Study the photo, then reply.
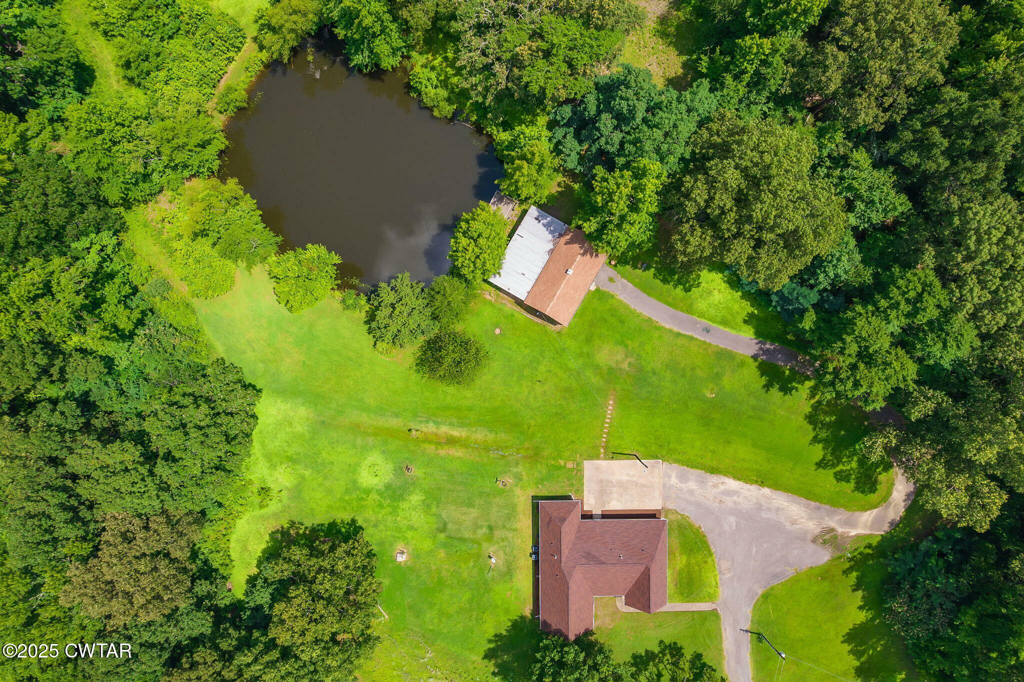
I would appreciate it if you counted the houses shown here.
two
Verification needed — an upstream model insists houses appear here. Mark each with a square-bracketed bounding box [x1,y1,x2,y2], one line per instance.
[488,206,611,327]
[533,489,668,641]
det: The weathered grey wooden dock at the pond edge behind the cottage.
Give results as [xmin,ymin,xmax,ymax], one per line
[487,189,516,218]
